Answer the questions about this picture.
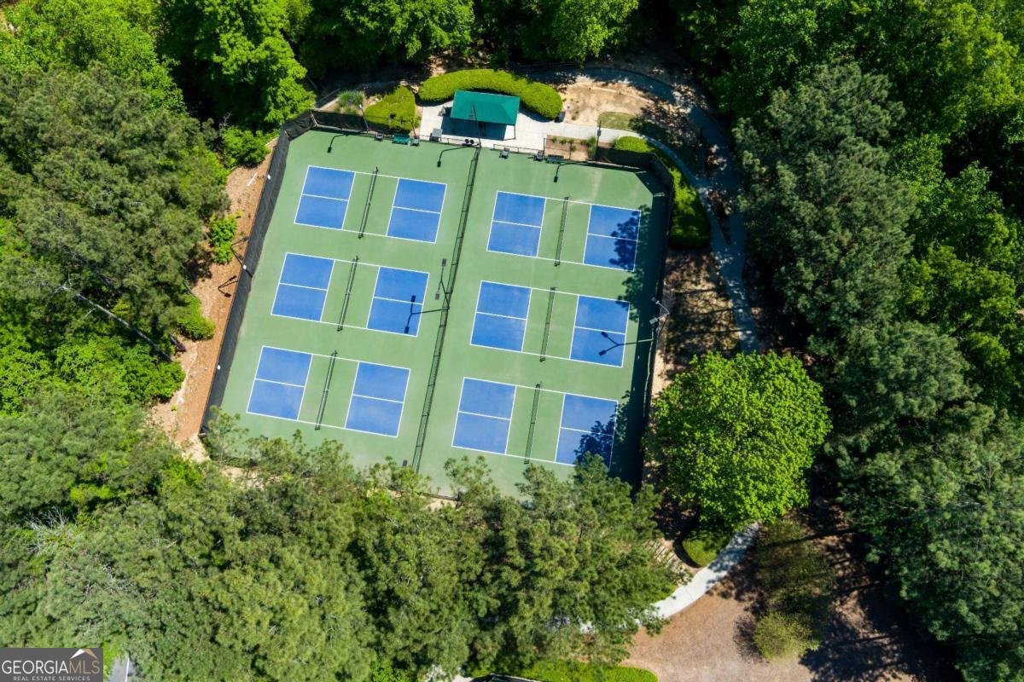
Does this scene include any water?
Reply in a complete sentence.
No, there's no water in this view.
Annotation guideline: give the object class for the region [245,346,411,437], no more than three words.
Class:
sports court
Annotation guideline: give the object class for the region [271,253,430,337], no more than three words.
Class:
sports court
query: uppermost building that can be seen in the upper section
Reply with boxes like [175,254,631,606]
[449,89,520,141]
